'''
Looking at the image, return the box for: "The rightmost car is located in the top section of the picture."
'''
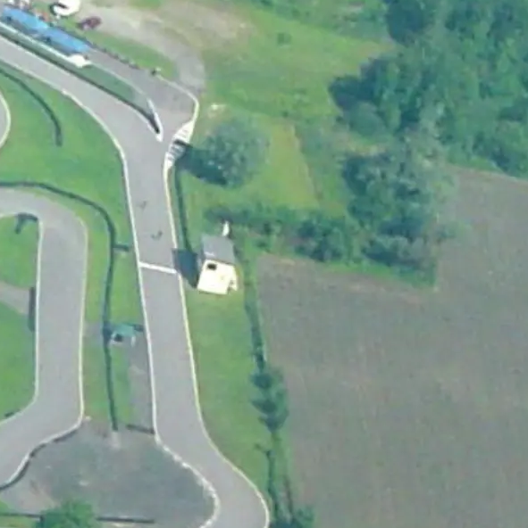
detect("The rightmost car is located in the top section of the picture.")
[80,14,104,28]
